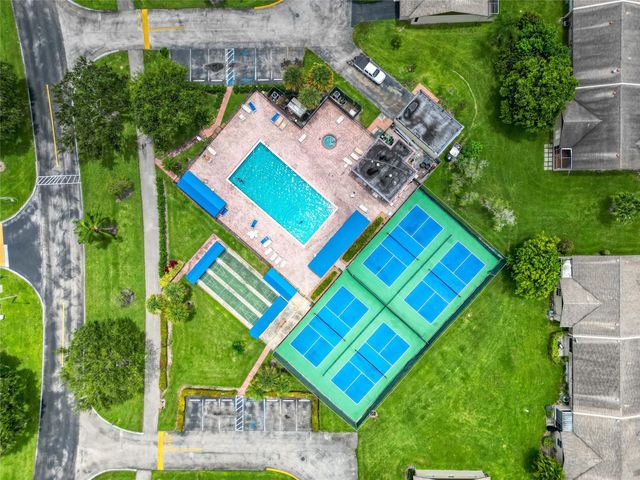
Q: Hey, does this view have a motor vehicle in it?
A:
Yes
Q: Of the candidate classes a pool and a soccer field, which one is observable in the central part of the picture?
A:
pool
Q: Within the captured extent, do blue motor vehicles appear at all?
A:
No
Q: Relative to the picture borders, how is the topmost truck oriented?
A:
at an angle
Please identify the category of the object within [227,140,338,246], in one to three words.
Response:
swimming pool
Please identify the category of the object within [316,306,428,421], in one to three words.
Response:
sports court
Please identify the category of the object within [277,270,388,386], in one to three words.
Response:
sports court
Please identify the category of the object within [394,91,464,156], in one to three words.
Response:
building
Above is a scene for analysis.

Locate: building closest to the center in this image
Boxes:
[352,139,417,203]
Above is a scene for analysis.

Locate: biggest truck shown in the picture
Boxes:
[352,53,386,85]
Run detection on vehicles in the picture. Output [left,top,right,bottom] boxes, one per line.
[352,53,386,85]
[445,144,462,161]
